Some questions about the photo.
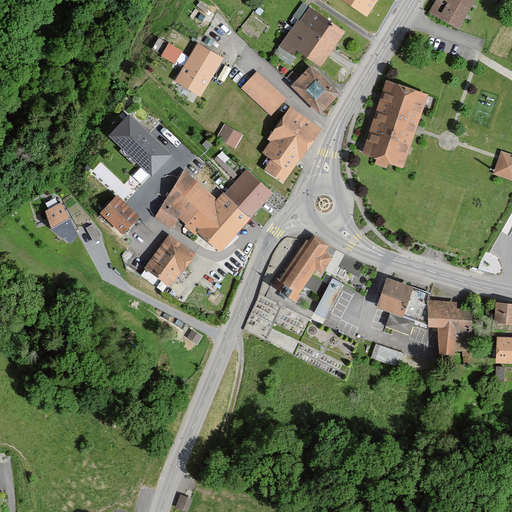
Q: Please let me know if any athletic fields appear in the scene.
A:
Yes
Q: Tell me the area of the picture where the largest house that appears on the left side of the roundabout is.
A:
center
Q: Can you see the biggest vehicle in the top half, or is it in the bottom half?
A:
top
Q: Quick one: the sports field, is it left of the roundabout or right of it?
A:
to the right of it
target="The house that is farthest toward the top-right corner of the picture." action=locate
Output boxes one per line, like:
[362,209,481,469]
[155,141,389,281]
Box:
[429,0,476,30]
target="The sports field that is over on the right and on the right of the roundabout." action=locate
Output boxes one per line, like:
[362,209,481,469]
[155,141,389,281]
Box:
[414,179,466,246]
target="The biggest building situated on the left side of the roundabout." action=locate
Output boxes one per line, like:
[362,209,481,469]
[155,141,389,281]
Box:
[155,170,250,252]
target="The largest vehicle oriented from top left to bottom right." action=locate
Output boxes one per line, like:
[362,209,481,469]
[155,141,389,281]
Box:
[160,126,180,146]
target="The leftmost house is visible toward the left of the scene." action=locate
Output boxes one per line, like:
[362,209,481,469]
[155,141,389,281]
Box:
[46,204,78,244]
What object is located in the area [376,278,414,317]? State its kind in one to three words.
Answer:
house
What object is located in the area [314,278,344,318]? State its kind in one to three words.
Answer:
building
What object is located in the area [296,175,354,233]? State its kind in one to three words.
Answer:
roundabout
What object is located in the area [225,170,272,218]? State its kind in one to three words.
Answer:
house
